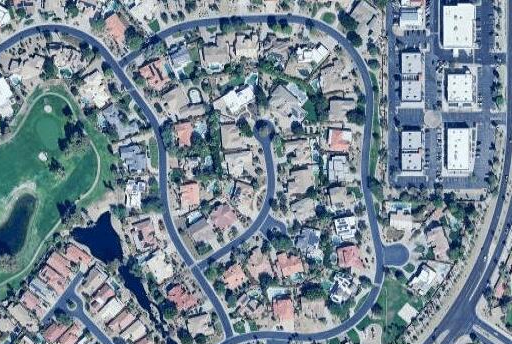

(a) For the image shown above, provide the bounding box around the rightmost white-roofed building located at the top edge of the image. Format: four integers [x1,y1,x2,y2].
[443,2,477,48]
